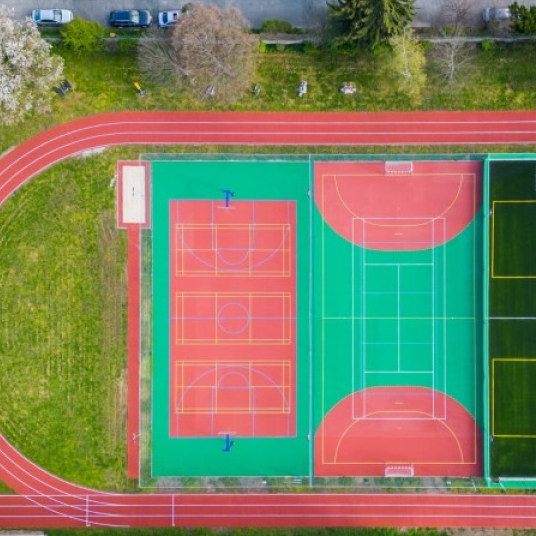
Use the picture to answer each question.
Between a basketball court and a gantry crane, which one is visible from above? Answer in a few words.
basketball court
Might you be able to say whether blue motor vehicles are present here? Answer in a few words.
Yes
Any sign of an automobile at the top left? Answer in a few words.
Yes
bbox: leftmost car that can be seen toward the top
[31,7,72,28]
